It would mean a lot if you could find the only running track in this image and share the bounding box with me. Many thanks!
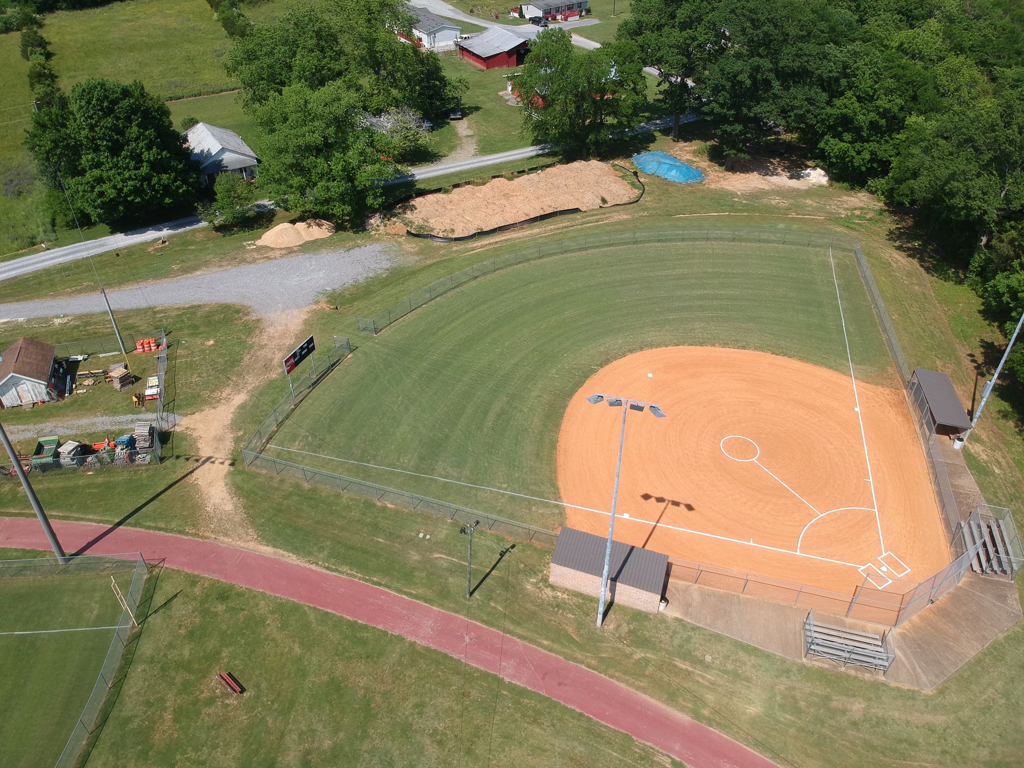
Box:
[0,517,782,768]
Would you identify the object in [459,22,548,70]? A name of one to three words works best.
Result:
barn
